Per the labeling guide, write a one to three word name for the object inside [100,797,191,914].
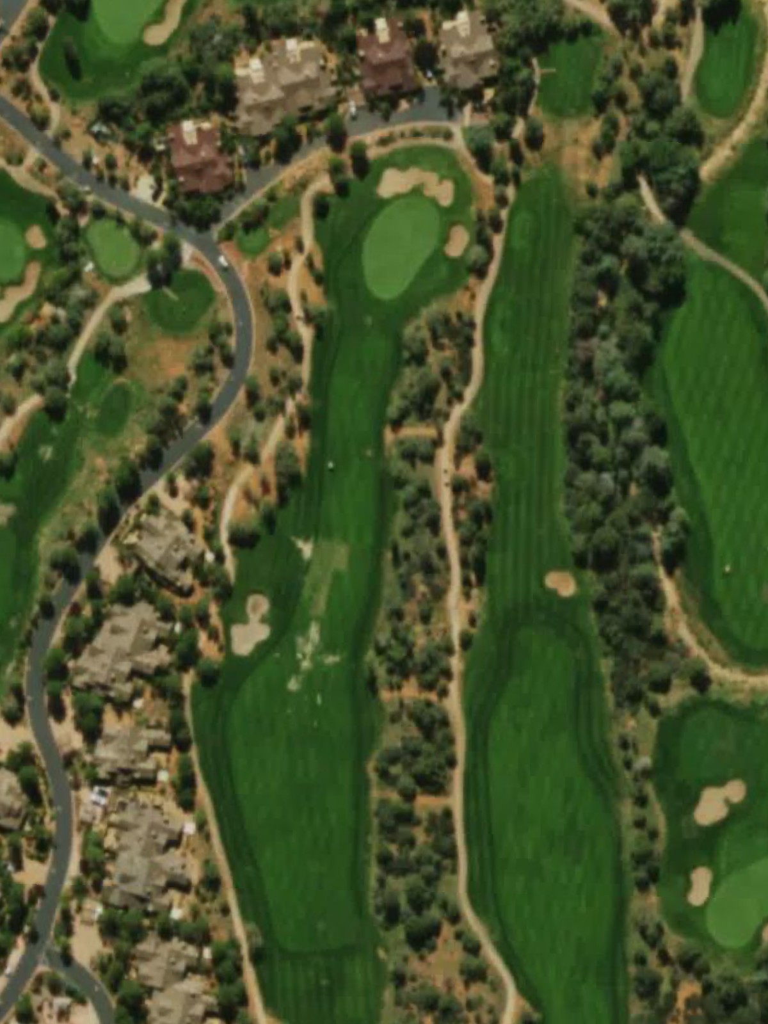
house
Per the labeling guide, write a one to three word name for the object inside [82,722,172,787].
house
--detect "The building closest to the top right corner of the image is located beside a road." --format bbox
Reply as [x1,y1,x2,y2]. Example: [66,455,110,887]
[438,6,502,89]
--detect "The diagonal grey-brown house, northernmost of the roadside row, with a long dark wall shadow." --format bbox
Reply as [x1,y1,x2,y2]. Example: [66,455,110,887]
[126,509,205,590]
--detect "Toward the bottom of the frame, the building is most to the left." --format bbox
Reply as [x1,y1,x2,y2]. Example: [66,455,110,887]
[0,767,28,831]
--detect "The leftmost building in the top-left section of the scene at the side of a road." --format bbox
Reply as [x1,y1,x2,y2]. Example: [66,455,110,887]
[156,118,235,195]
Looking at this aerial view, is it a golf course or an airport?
golf course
